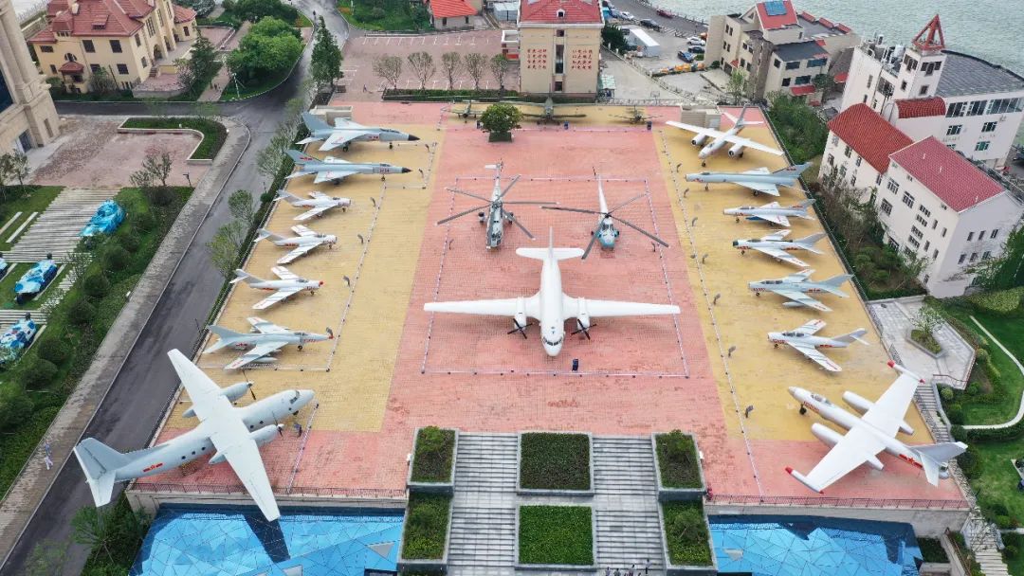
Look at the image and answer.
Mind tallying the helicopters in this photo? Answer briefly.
2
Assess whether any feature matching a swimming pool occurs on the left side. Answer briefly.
Yes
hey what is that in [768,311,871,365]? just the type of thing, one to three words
airplane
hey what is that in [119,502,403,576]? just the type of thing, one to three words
swimming pool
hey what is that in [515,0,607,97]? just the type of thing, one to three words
building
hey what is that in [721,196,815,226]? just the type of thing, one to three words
airplane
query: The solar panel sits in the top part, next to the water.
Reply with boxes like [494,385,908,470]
[765,2,789,20]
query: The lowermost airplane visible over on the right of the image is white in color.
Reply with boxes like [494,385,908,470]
[778,364,968,498]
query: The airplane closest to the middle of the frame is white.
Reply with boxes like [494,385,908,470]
[425,221,680,360]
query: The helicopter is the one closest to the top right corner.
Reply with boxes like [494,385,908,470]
[537,164,665,258]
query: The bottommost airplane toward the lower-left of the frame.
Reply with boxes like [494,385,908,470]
[69,343,316,518]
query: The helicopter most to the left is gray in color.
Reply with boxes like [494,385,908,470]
[442,158,556,251]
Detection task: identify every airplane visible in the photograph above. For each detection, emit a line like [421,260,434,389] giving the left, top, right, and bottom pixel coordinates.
[768,311,871,365]
[778,364,968,498]
[257,220,339,257]
[297,114,420,155]
[439,99,480,124]
[721,196,815,226]
[740,263,858,308]
[287,151,414,187]
[730,226,830,264]
[683,160,812,195]
[232,259,325,305]
[514,100,596,133]
[608,98,663,128]
[69,343,316,518]
[206,312,332,361]
[667,101,776,163]
[425,221,680,360]
[277,183,353,217]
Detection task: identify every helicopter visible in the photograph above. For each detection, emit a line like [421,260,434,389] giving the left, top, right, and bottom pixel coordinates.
[537,164,665,258]
[442,158,556,251]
